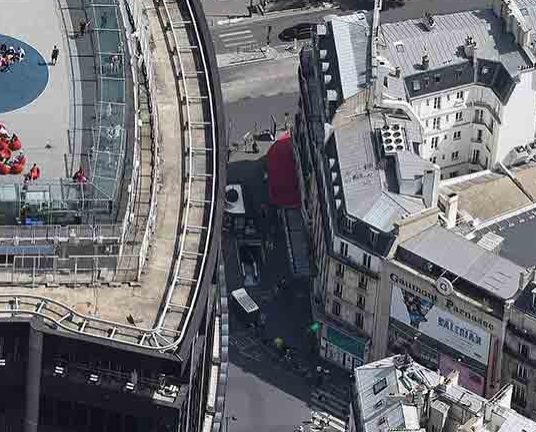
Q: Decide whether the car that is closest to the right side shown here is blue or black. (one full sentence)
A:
The color of the car that is closest to the right side is black.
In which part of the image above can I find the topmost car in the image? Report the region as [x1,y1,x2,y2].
[276,23,307,43]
